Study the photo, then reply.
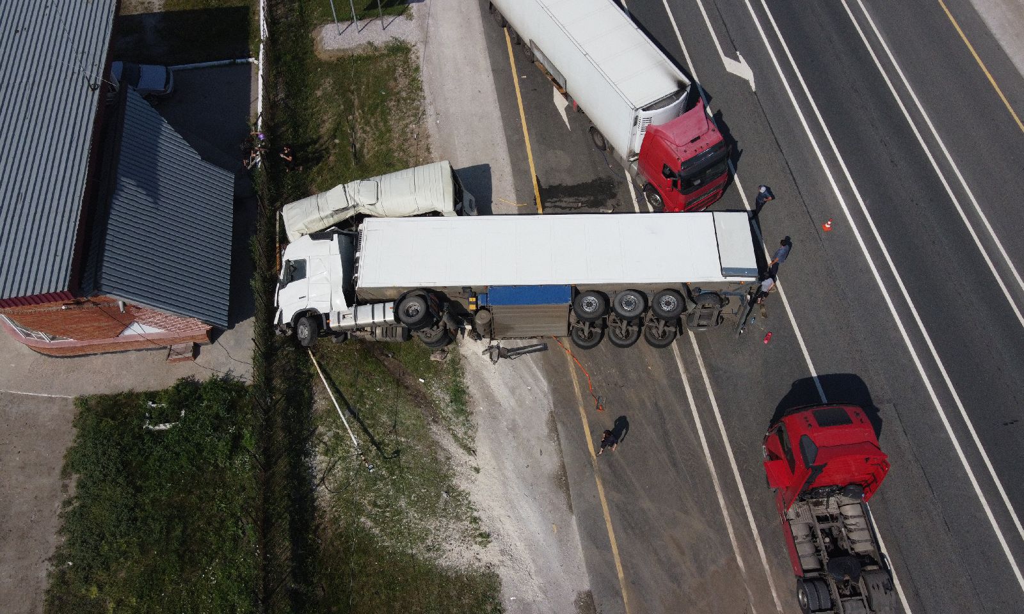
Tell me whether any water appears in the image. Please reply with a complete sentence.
No, there is no water in the image.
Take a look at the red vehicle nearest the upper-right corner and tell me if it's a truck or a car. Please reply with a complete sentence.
What you see as the red vehicle nearest the upper-right corner is a truck.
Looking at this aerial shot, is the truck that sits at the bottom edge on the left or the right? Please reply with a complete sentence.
The truck that sits at the bottom edge appears in the right half of the scene.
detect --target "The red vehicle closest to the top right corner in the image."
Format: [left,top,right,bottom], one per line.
[591,96,743,217]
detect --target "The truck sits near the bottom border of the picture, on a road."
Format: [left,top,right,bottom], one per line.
[755,400,903,614]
